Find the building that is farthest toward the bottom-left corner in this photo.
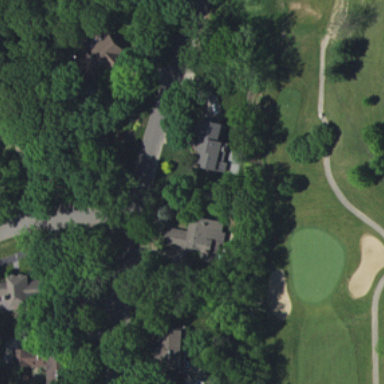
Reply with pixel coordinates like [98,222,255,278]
[14,350,58,384]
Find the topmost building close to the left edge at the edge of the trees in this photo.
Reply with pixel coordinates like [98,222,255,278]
[0,274,40,311]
